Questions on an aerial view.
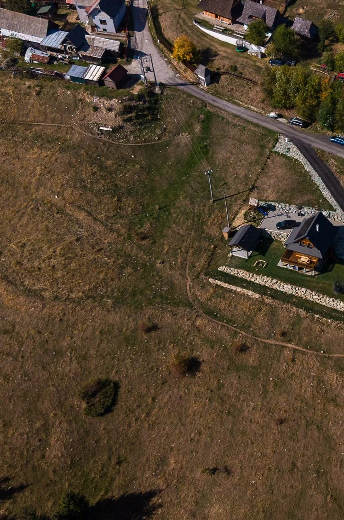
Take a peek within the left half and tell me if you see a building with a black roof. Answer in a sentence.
Yes, there is a building with a black roof within the left half.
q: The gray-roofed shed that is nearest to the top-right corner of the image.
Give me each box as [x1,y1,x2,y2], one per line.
[291,16,316,44]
